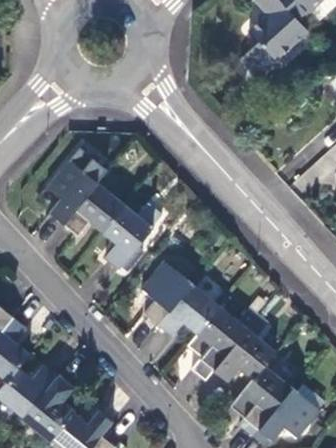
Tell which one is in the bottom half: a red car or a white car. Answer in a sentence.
Visible in the bottom half is a white car.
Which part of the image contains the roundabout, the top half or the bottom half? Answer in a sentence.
The roundabout sits in the top half of the picture.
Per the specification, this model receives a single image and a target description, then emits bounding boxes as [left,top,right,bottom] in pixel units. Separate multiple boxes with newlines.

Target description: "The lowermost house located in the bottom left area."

[52,409,113,448]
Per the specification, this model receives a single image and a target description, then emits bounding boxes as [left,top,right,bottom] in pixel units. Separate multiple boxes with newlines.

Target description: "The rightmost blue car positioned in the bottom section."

[96,357,117,379]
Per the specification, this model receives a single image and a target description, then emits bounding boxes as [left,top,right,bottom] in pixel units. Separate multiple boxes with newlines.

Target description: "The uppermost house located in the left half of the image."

[70,136,118,183]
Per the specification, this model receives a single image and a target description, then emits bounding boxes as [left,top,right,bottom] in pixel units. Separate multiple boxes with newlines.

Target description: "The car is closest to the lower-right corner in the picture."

[232,430,252,448]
